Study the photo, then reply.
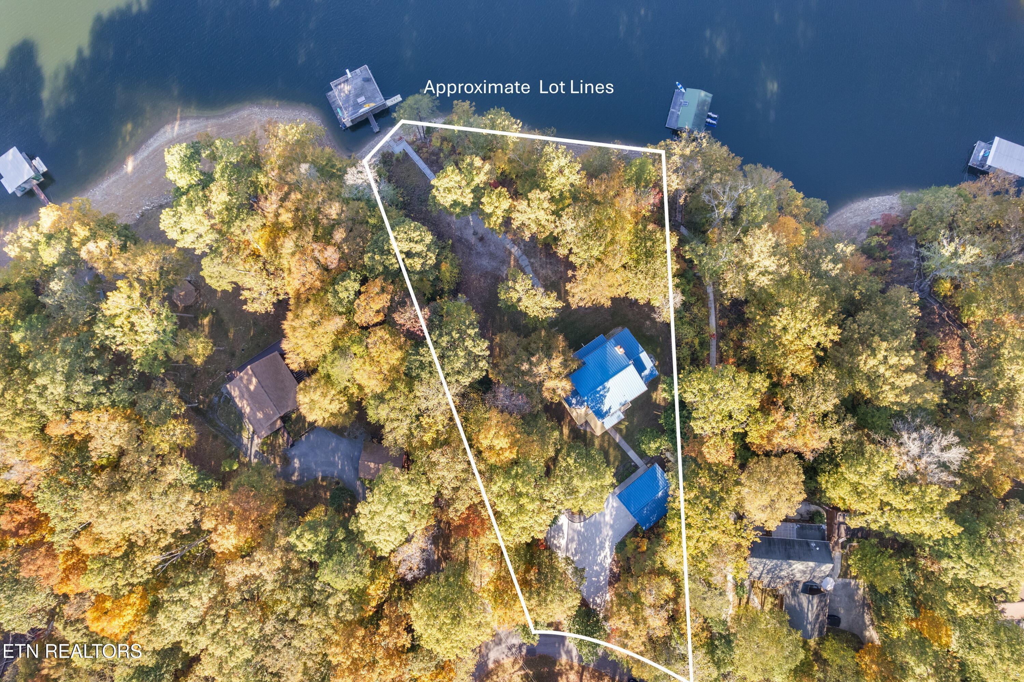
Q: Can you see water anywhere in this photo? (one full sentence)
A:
Yes, some water is visible.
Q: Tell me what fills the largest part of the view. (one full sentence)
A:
For the most part, this view shows trees.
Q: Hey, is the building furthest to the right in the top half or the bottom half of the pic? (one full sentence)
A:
It is in the top half that the building furthest to the right appears.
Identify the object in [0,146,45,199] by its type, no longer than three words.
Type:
building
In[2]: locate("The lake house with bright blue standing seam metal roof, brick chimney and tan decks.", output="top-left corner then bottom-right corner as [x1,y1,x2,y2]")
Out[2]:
[563,327,659,437]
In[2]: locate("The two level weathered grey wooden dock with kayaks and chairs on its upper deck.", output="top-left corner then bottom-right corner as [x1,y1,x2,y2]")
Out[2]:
[326,62,387,131]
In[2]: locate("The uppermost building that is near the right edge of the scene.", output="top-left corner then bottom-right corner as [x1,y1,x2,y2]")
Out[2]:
[967,137,1024,188]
